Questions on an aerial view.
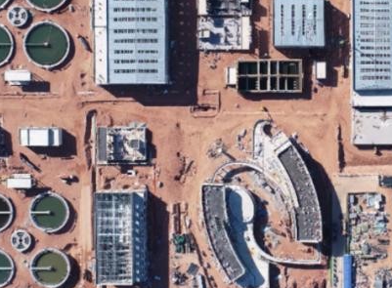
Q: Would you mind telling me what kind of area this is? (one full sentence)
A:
It's an industrial area.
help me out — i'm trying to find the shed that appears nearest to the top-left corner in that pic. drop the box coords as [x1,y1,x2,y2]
[5,70,32,83]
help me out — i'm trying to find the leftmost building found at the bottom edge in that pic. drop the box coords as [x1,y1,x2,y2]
[95,190,146,285]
